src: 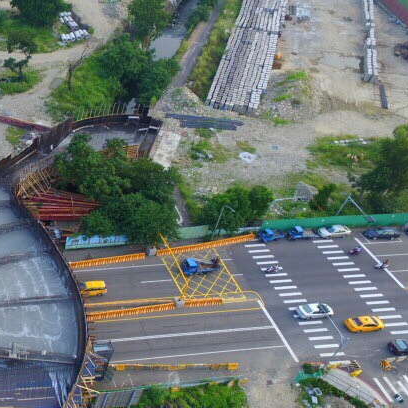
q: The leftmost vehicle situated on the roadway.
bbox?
[79,280,108,299]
